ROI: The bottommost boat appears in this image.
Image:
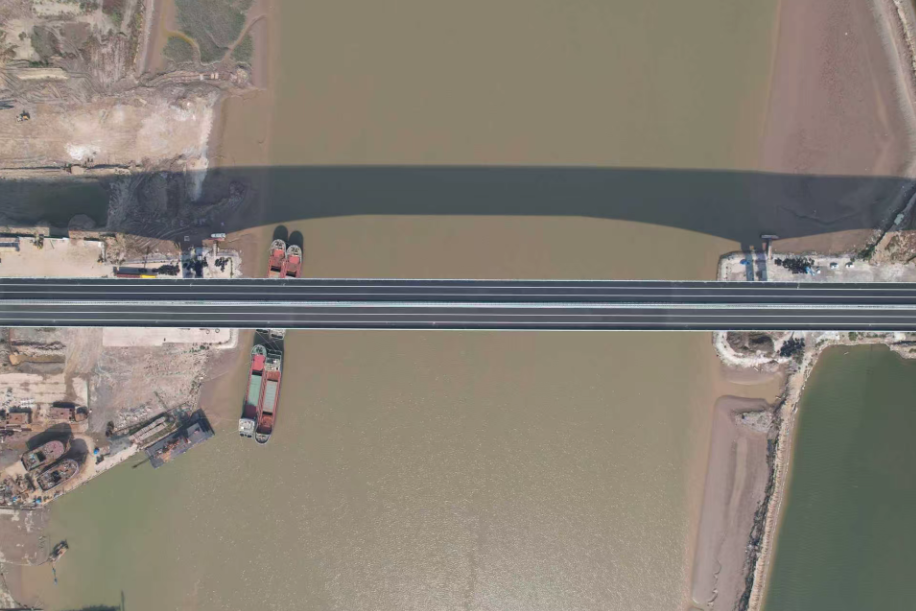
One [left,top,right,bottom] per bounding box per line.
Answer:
[49,542,70,561]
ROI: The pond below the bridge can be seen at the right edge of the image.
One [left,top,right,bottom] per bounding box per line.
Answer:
[763,344,916,611]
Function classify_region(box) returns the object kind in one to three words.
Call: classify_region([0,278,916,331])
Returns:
bridge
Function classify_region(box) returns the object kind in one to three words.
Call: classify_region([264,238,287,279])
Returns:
ship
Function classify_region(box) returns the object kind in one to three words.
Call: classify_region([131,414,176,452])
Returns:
ship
